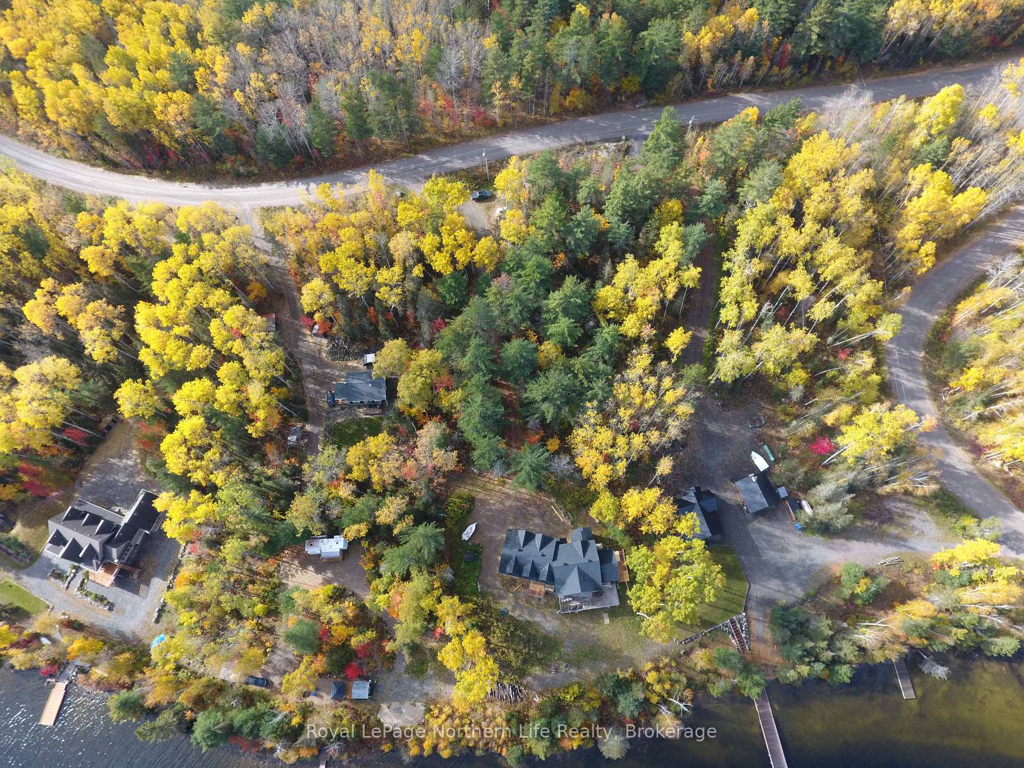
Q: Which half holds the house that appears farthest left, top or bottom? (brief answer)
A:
bottom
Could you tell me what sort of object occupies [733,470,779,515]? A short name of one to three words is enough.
building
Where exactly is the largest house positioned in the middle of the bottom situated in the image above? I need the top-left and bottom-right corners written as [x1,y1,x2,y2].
[498,521,631,614]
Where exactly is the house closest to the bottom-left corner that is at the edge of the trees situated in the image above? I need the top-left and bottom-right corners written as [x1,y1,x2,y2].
[42,482,173,587]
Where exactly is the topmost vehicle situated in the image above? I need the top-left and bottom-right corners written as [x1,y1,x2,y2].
[470,189,492,201]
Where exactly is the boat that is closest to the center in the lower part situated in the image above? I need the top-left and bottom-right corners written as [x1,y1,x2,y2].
[459,522,476,543]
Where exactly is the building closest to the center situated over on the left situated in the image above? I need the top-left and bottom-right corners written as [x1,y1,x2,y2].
[334,370,388,415]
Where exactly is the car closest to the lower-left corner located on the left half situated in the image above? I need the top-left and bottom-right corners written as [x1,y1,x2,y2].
[243,676,268,689]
